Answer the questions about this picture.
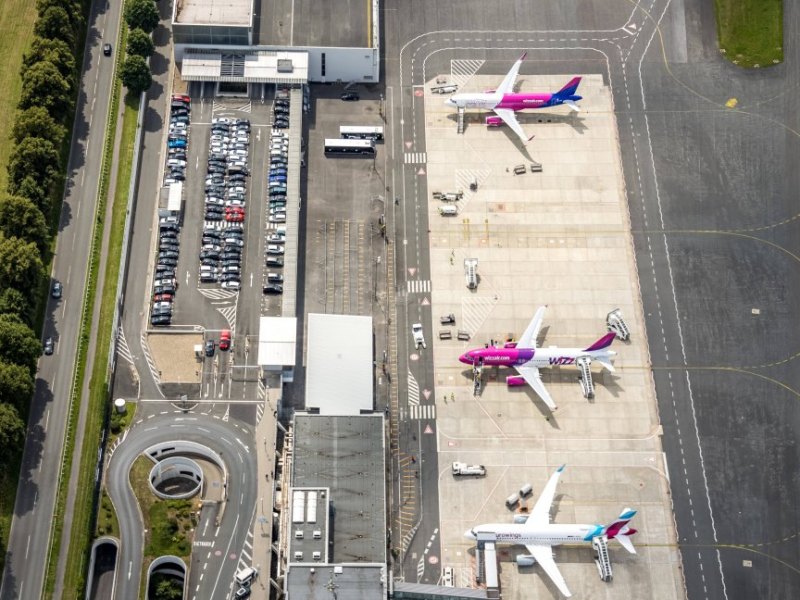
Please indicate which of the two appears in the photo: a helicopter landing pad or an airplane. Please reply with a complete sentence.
Visible in the photo is an airplane.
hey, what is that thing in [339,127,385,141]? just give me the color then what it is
white vehicle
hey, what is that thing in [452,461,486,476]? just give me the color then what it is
white work vehicle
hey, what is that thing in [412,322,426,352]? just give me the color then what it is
white work vehicle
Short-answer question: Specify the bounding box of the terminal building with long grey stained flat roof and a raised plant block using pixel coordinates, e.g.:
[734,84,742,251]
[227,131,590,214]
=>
[270,411,388,600]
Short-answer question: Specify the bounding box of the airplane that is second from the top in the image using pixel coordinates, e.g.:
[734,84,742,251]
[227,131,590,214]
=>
[459,302,618,411]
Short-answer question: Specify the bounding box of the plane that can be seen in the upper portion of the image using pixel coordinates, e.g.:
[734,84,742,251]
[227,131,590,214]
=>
[445,51,584,140]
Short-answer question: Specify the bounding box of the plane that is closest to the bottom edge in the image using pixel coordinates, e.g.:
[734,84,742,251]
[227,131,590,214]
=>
[464,461,637,596]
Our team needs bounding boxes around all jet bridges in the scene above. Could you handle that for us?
[477,531,500,600]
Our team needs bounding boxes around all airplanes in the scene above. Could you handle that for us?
[459,302,618,411]
[445,51,584,140]
[464,461,637,596]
